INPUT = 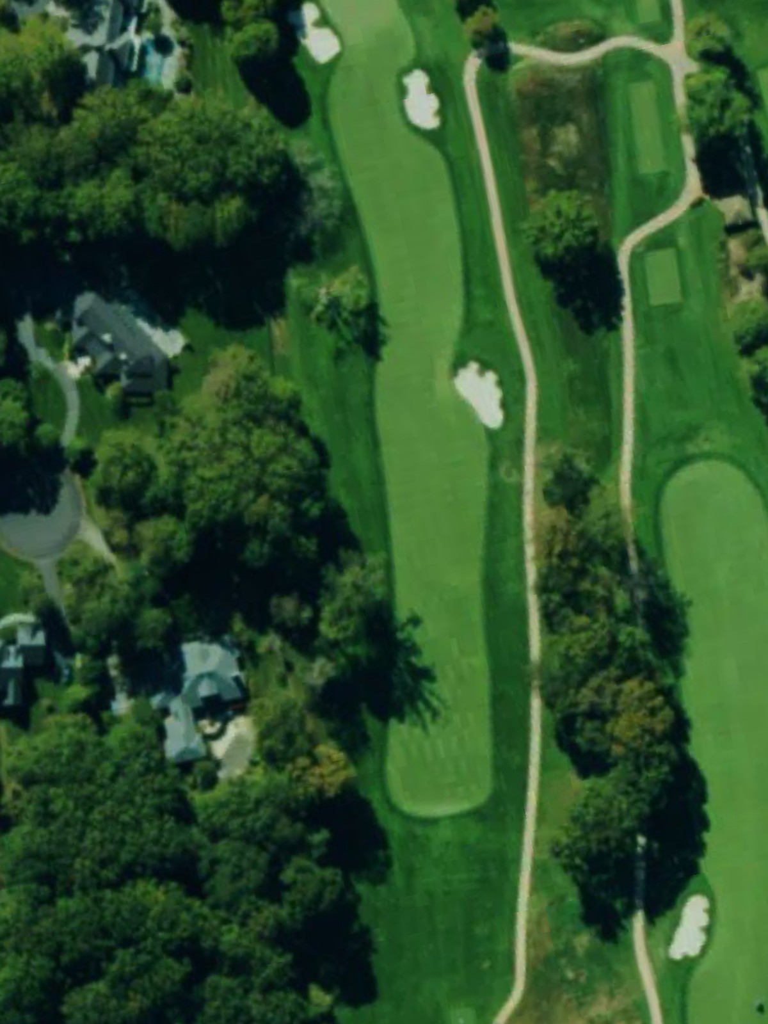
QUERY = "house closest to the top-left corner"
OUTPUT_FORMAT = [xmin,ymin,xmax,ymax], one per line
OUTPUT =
[82,0,142,81]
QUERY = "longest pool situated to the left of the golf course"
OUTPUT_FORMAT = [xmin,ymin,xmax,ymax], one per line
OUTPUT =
[142,35,164,81]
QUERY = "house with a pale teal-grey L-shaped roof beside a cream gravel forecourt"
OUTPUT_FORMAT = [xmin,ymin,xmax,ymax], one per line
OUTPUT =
[146,644,241,761]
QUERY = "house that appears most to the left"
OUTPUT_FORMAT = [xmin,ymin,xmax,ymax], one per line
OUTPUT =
[0,628,44,709]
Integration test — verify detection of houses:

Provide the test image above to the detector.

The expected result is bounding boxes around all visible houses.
[146,644,241,761]
[63,288,167,393]
[82,0,142,81]
[0,628,44,709]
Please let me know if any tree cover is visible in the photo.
Yes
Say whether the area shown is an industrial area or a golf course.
golf course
